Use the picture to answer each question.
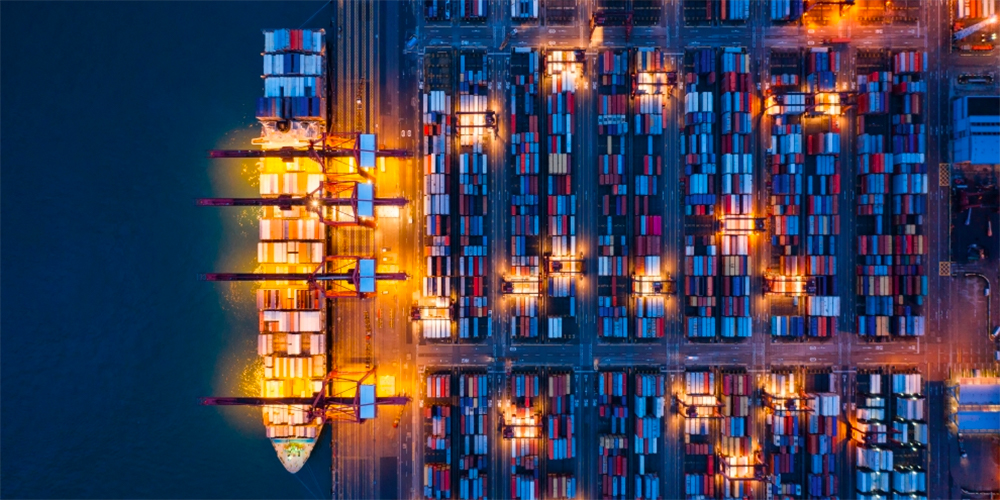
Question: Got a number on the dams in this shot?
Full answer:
There are no dams in the image.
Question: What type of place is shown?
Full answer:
The picture captures a port.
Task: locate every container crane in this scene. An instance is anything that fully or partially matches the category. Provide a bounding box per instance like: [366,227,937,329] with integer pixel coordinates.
[189,179,413,230]
[801,89,862,115]
[802,0,862,24]
[585,7,637,37]
[628,275,681,297]
[716,452,770,481]
[202,362,413,425]
[452,110,499,136]
[407,300,457,322]
[628,68,681,97]
[759,387,819,414]
[204,130,413,183]
[759,274,821,297]
[498,413,546,441]
[541,255,590,276]
[713,215,770,235]
[846,419,910,447]
[672,393,728,420]
[498,274,546,297]
[202,251,413,300]
[541,47,590,76]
